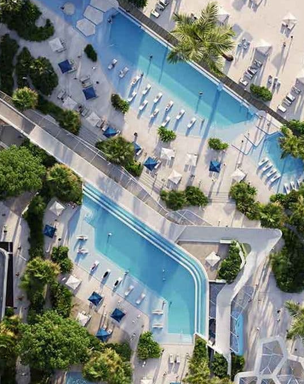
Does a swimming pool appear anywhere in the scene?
Yes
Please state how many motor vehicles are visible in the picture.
none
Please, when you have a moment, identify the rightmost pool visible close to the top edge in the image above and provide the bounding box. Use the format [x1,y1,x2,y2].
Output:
[91,6,261,147]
